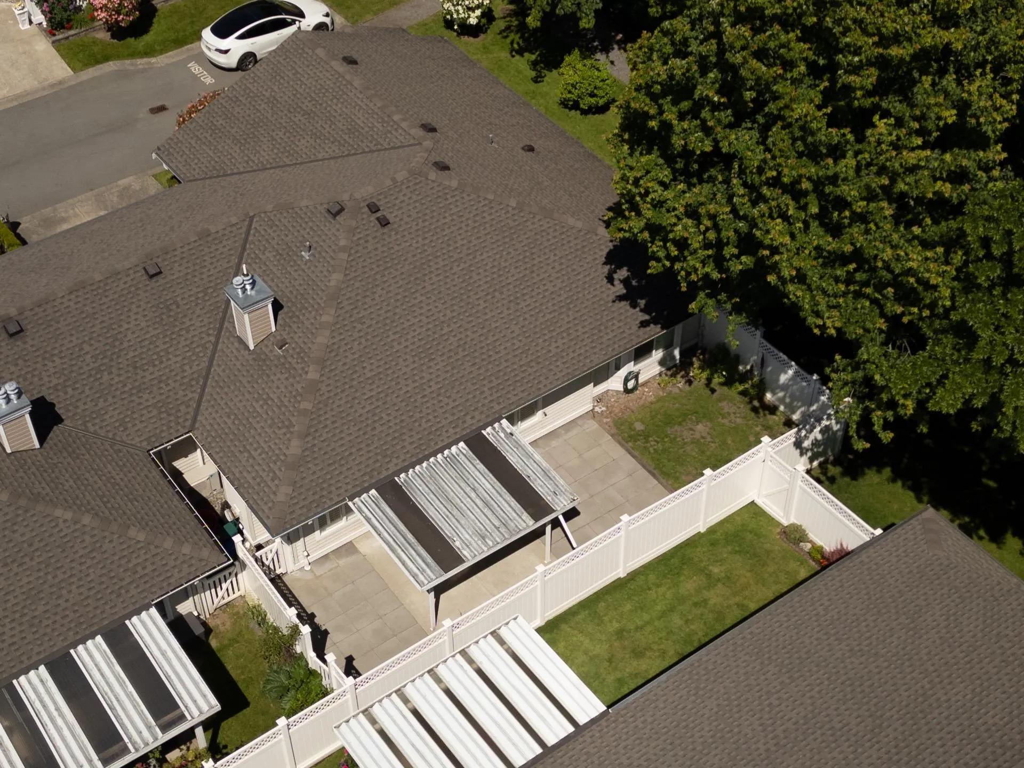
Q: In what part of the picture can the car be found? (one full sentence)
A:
Look in the top left portion of the view to spot the car.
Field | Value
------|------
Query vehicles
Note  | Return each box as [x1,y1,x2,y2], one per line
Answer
[197,0,335,72]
